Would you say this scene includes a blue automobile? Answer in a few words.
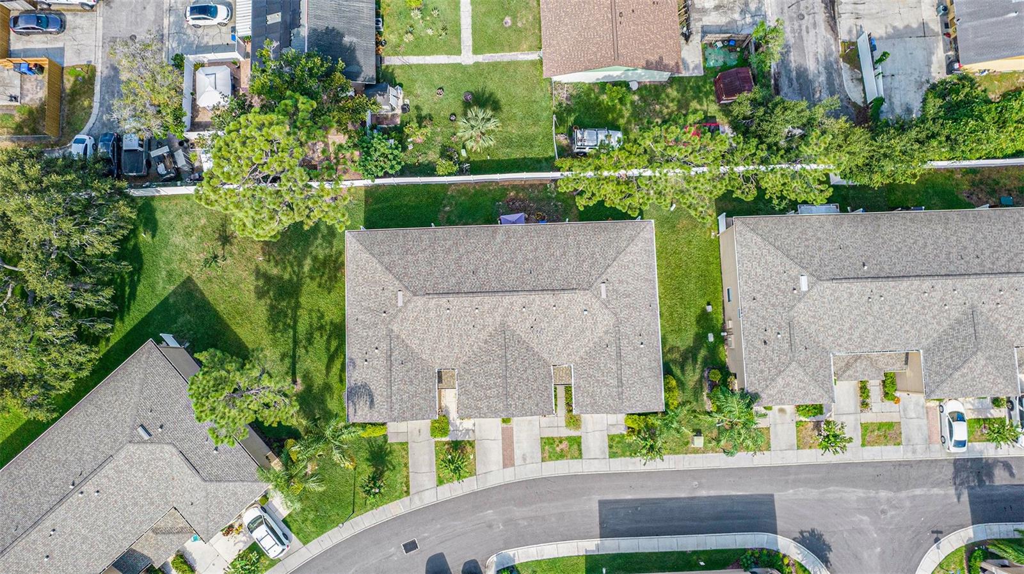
Yes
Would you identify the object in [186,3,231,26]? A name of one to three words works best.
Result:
car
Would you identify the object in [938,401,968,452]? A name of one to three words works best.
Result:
car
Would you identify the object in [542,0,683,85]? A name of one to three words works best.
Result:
house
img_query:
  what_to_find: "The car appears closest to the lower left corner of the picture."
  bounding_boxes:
[245,505,289,559]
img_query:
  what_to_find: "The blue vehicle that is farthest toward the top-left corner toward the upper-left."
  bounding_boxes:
[10,11,64,36]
